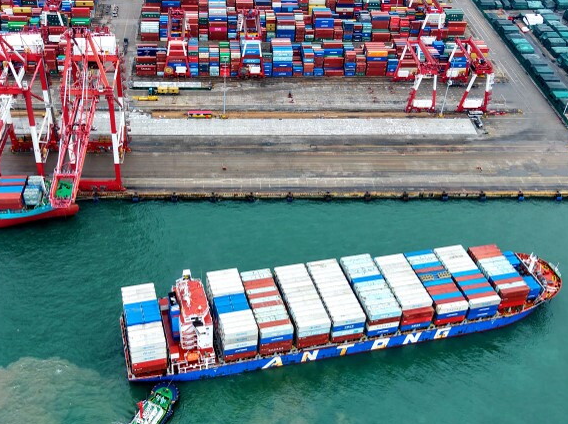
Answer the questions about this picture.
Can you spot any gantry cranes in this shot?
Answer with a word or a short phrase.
Yes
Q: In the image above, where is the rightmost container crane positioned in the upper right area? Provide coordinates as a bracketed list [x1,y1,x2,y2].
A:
[441,35,501,111]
